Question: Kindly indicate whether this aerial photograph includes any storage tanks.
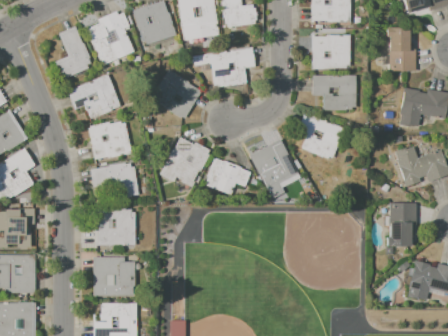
No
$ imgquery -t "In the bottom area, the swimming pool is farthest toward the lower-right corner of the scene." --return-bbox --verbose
[380,277,400,302]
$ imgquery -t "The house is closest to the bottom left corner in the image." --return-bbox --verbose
[0,302,36,336]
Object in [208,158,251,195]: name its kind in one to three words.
house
